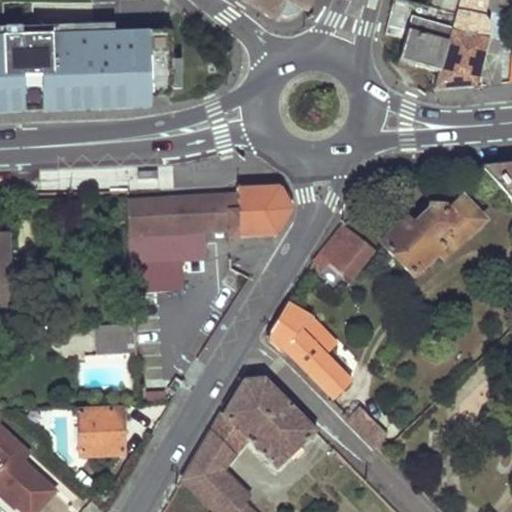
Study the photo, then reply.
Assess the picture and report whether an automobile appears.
Yes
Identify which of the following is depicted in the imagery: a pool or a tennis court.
pool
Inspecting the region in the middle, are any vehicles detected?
Yes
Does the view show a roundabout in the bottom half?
No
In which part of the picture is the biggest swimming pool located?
bottom left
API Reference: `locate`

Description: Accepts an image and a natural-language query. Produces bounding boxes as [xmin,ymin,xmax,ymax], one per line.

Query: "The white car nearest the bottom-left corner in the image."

[168,442,186,465]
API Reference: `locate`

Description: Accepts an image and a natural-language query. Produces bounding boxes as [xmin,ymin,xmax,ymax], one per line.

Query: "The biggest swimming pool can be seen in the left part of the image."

[82,364,128,390]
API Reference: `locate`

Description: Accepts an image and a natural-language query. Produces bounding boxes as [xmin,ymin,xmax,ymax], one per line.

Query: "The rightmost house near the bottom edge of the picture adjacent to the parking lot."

[182,376,318,512]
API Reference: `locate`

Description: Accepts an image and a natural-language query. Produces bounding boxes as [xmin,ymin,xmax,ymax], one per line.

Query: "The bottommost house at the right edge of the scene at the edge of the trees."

[388,192,492,279]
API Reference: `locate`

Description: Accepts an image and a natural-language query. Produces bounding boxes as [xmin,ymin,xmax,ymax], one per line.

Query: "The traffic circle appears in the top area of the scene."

[238,31,390,187]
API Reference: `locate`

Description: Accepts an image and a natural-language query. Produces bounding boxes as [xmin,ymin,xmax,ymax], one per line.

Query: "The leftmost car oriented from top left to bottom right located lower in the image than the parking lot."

[130,408,151,428]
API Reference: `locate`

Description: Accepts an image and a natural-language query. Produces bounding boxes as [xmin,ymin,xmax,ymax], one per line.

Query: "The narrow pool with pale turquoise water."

[53,416,70,462]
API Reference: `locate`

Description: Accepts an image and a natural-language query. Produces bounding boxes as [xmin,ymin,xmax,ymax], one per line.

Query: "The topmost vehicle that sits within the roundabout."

[278,63,298,75]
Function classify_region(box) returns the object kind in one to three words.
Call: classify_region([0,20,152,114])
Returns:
building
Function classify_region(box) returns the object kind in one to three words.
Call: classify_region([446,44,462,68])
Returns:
solar panel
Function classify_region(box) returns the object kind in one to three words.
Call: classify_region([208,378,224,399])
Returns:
car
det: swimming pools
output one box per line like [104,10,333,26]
[82,364,128,390]
[53,416,70,462]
